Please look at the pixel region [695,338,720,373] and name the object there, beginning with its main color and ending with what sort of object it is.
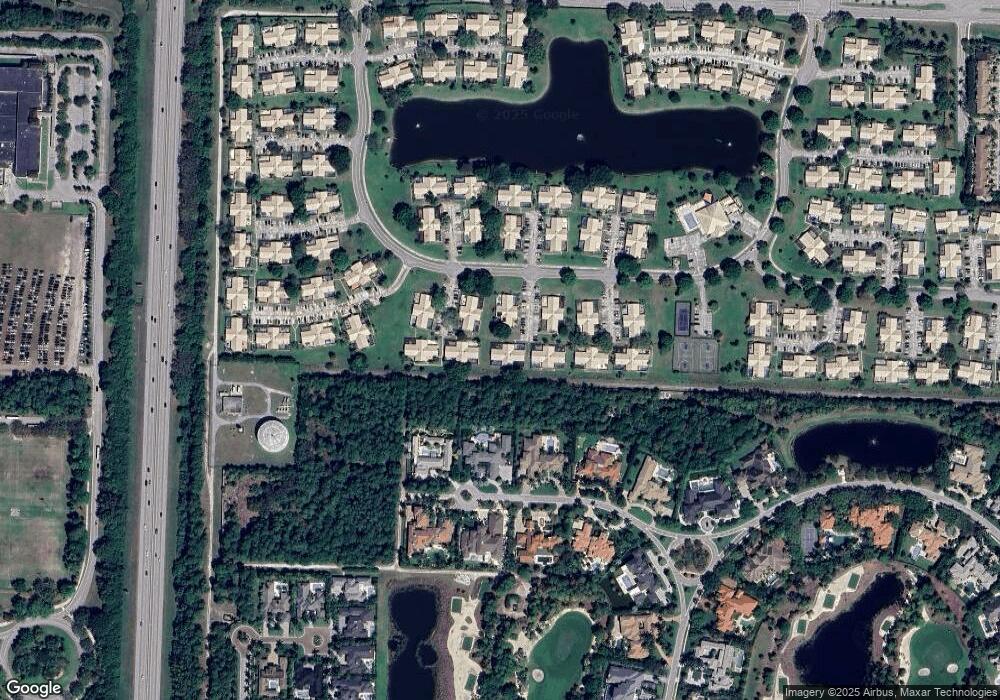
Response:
gray basketball court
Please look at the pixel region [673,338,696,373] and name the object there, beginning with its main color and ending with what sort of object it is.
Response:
gray basketball court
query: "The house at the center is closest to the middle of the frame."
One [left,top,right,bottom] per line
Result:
[491,343,524,365]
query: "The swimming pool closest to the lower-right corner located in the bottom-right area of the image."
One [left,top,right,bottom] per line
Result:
[978,614,995,638]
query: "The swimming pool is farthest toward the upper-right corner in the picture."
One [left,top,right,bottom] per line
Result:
[675,204,701,234]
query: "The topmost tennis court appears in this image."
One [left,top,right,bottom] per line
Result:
[675,301,691,336]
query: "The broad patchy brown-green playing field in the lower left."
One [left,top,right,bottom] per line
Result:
[0,438,65,592]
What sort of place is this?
residential area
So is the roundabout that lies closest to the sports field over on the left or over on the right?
left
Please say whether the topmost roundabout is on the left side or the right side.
right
